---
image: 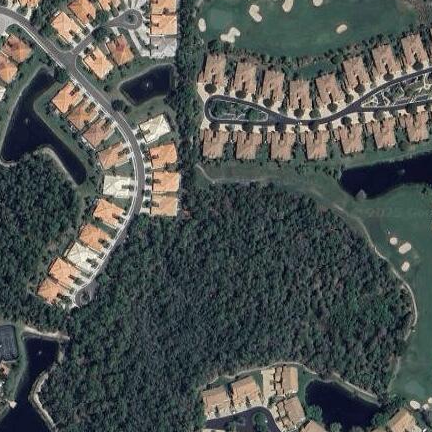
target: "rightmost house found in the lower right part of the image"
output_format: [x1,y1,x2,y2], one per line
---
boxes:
[384,409,418,432]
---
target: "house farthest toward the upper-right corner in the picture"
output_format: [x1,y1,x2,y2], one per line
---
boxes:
[402,32,428,65]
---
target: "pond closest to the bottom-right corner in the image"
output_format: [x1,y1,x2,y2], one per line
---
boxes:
[306,380,379,432]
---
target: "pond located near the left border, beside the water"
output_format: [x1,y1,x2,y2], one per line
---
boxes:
[0,67,86,184]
